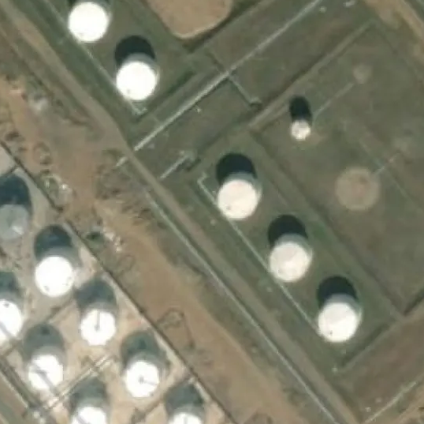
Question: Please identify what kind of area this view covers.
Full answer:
This image shows an industrial area.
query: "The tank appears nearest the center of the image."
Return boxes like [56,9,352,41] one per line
[218,171,264,221]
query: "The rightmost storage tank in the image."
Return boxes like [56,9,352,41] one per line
[319,293,364,344]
